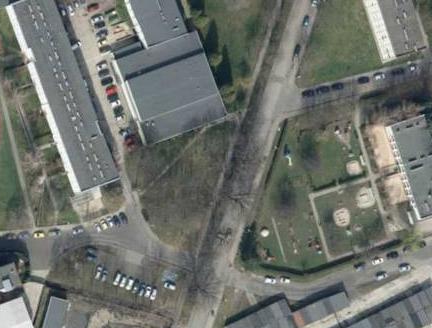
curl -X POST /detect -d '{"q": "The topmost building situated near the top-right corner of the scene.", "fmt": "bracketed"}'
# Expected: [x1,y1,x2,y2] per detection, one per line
[365,0,427,61]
